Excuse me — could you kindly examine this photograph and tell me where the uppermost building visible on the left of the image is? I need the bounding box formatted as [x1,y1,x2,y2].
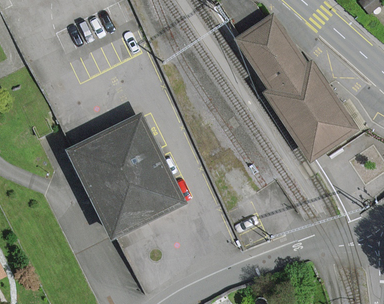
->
[65,113,187,240]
